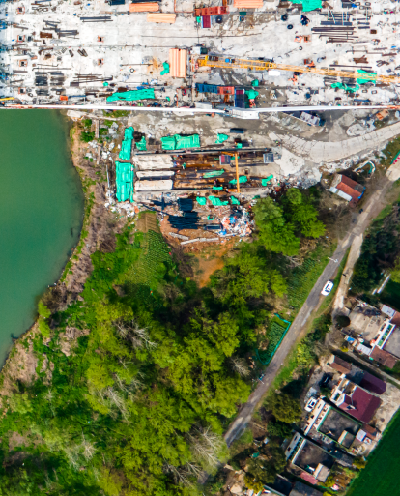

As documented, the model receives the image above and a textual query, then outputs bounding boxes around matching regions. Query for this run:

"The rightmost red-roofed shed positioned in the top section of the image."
[328,174,364,200]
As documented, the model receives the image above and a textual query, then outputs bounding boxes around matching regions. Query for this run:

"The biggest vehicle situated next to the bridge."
[295,109,322,127]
